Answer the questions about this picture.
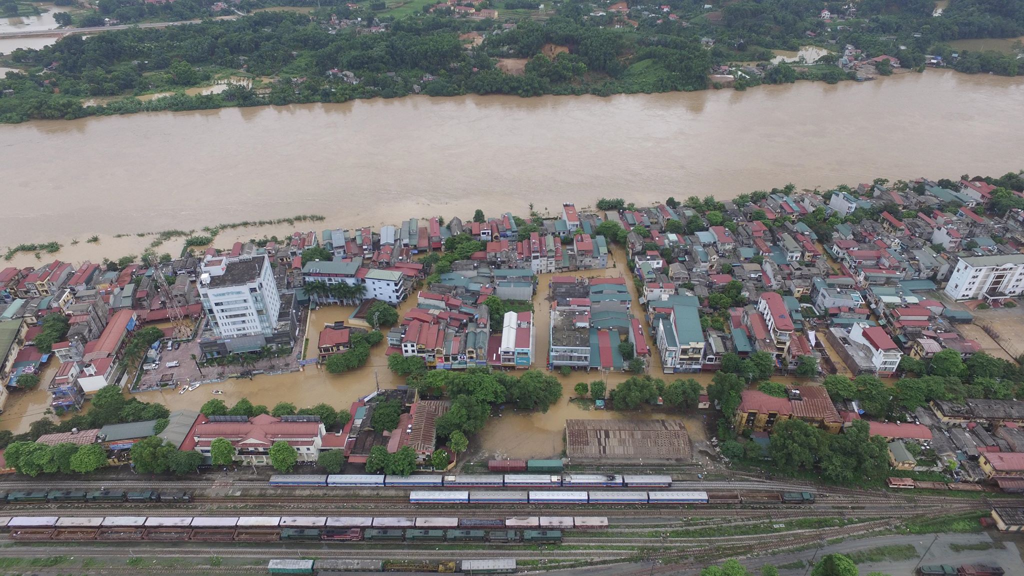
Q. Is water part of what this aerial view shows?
Yes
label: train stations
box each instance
[193,410,323,464]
